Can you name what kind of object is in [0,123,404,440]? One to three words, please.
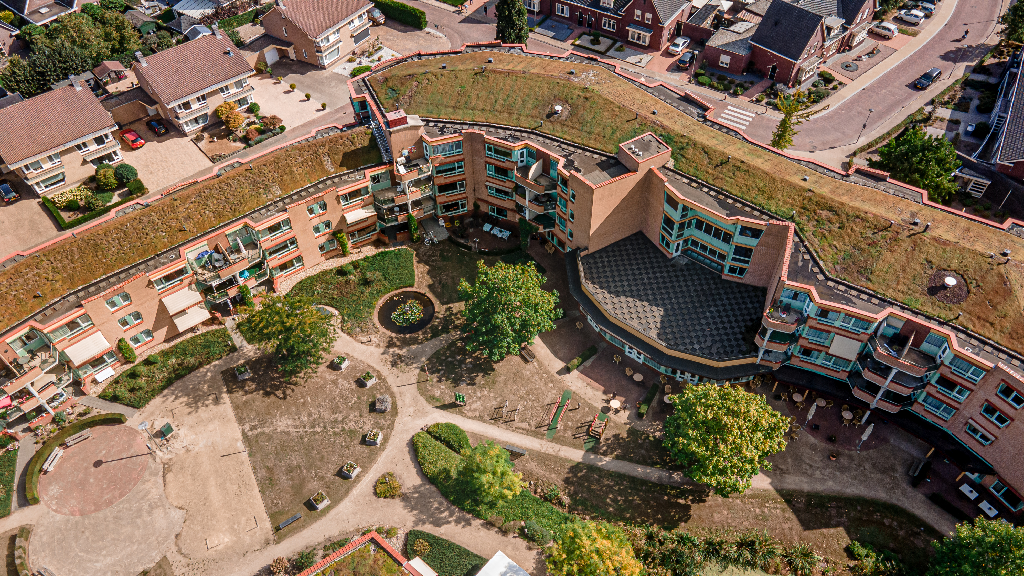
building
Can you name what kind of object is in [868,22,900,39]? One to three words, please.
car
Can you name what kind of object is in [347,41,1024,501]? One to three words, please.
building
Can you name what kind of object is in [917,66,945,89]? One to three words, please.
car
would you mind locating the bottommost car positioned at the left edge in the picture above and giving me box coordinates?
[0,180,20,202]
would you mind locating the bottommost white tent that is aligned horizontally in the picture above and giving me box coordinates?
[473,550,529,576]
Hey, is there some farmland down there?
No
